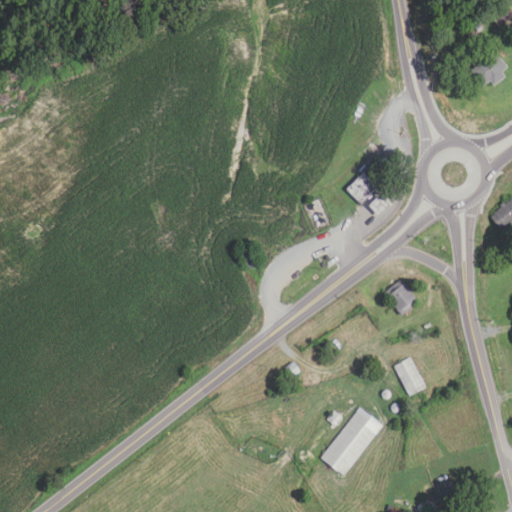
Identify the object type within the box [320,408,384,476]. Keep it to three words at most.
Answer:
barn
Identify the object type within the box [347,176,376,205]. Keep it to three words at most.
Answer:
building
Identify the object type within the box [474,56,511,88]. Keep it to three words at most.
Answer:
house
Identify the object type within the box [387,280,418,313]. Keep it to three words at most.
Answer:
house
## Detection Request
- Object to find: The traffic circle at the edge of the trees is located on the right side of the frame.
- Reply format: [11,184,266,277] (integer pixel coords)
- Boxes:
[374,58,512,262]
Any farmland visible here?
Yes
